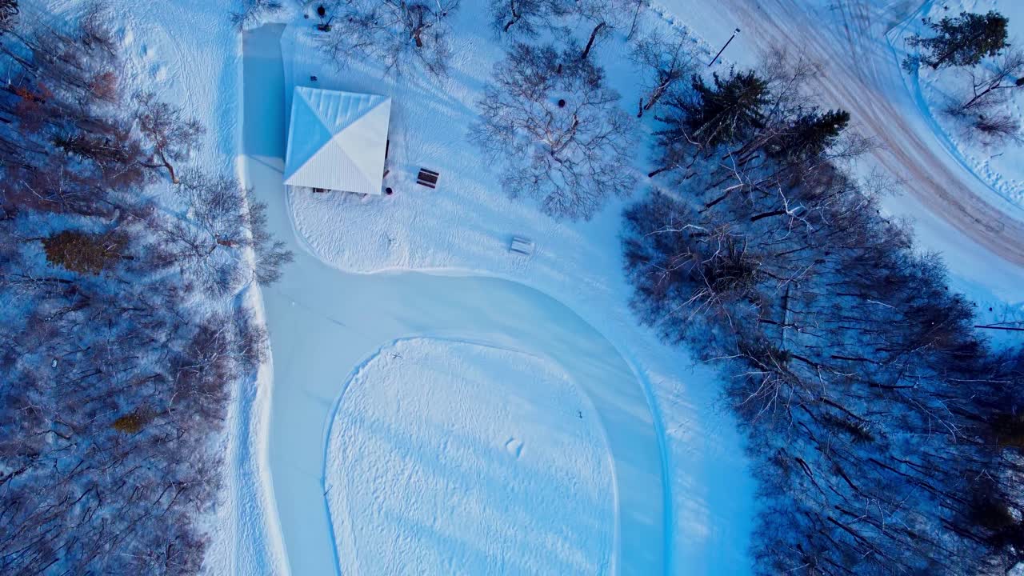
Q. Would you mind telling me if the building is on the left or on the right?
left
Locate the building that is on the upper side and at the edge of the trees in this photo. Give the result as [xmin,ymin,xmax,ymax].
[284,86,392,195]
